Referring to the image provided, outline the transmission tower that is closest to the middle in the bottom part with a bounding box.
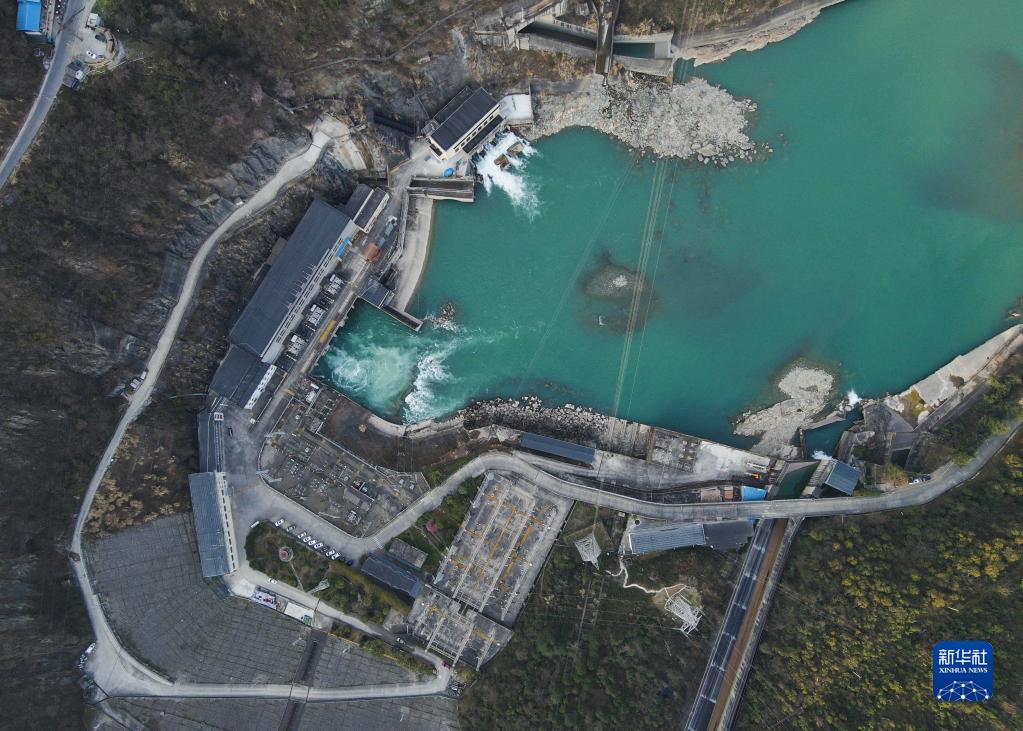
[572,532,603,572]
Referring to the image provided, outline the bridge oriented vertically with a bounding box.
[592,0,613,86]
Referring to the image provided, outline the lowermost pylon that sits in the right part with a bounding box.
[662,591,701,638]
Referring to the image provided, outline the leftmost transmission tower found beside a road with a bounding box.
[309,576,333,599]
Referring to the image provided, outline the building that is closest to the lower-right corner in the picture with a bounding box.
[819,457,860,494]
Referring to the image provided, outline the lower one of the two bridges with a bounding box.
[762,499,808,517]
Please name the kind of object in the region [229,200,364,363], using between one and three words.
building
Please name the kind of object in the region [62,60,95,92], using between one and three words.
house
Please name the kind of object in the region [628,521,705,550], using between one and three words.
building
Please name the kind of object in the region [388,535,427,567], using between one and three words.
house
